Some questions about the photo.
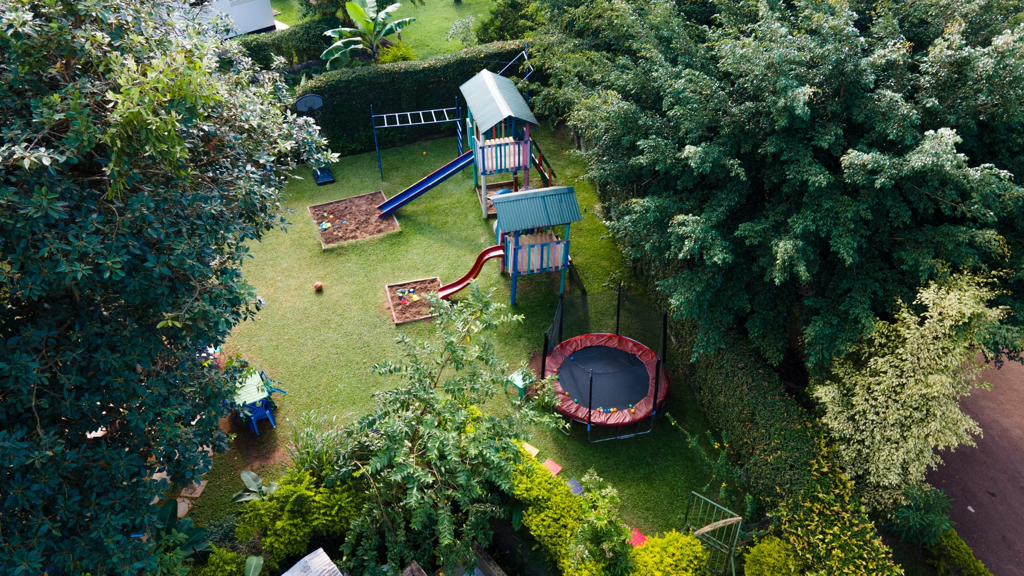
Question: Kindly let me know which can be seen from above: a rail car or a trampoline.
trampoline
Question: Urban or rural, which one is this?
rural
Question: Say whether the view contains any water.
No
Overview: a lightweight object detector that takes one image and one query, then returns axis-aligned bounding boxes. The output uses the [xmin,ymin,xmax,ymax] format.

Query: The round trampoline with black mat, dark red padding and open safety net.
[541,281,677,445]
